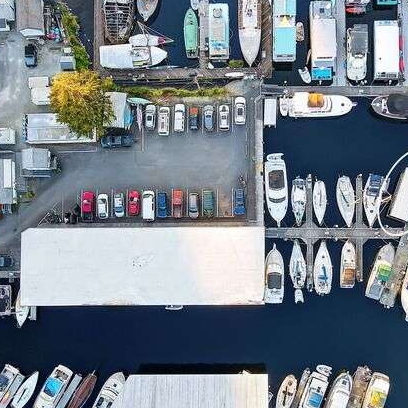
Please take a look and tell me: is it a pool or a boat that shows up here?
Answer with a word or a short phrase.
boat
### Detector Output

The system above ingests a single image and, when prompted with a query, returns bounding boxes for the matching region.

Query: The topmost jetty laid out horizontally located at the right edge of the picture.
[278,79,408,95]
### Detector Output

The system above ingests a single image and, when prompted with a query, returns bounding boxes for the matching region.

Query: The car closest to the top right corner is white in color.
[234,98,246,125]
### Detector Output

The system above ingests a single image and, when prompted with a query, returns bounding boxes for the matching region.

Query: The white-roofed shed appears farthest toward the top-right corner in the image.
[264,98,277,130]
